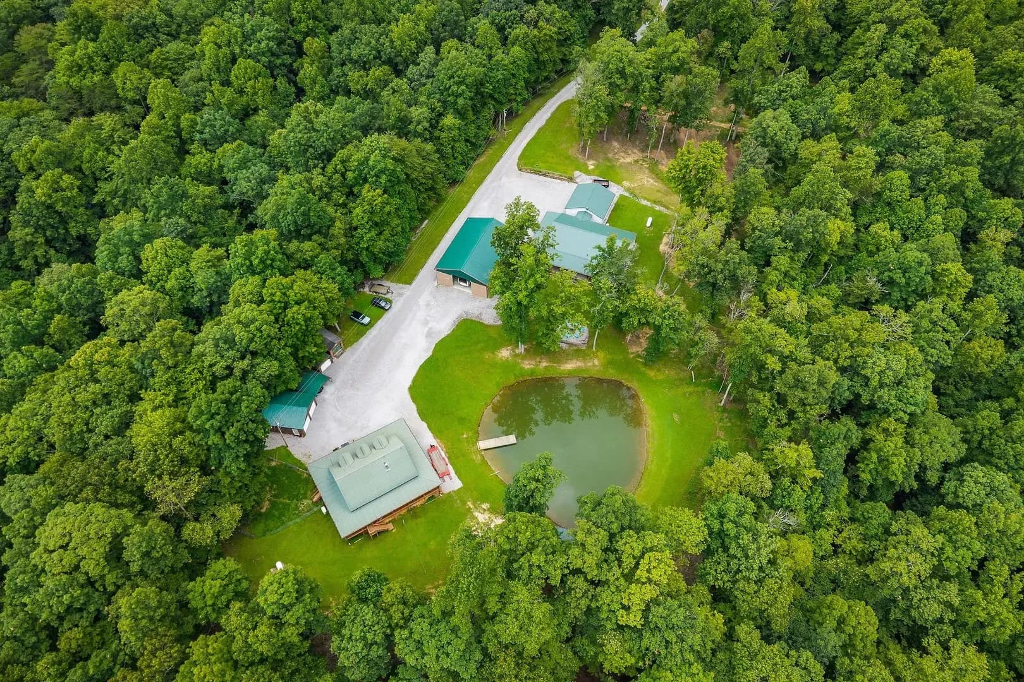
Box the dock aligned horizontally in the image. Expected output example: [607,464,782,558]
[478,435,516,451]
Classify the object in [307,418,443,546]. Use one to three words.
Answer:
house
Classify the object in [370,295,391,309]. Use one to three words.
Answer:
car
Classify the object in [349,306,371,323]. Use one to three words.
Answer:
car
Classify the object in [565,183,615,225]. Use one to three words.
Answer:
shed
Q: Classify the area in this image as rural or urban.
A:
rural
